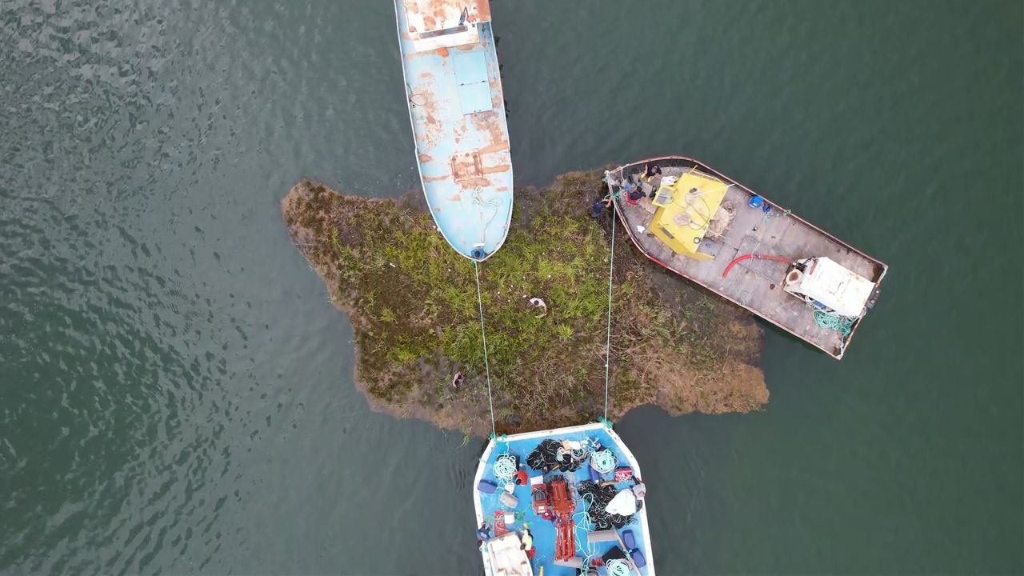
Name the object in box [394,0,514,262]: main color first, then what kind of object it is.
white boat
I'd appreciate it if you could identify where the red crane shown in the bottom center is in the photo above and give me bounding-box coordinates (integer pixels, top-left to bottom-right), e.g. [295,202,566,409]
[530,472,578,562]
